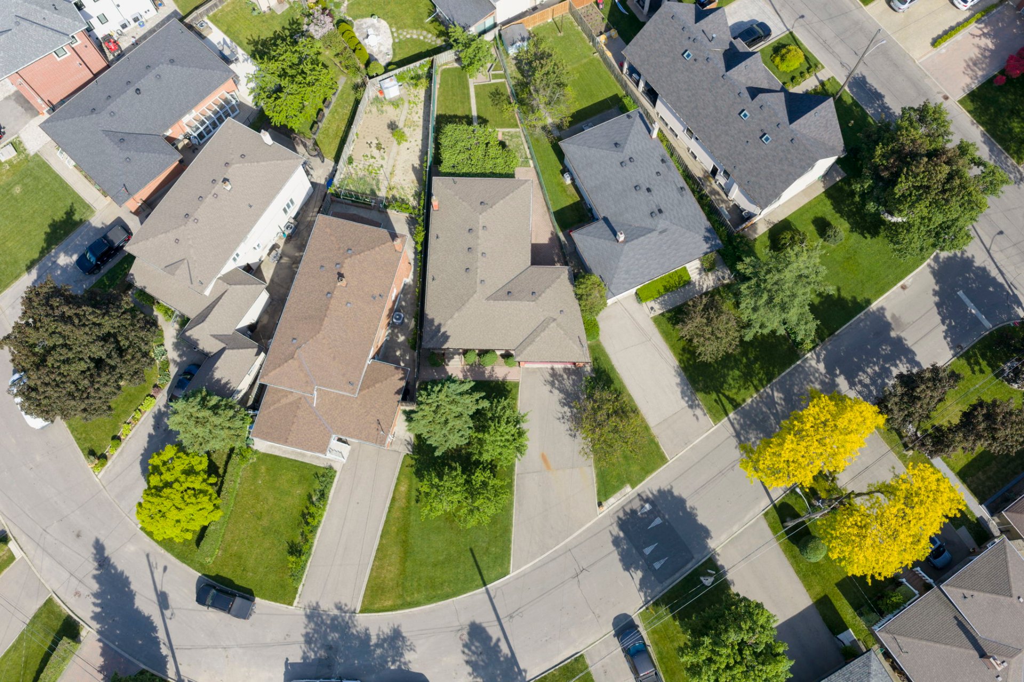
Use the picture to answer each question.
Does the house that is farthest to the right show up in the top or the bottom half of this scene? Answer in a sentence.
Seen from above, the house that is farthest to the right lies in the bottom half of the view.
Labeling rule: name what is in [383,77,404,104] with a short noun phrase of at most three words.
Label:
shed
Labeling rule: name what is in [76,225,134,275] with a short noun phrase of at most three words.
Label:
truck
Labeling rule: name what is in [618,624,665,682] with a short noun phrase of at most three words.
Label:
truck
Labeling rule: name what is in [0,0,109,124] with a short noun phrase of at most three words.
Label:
house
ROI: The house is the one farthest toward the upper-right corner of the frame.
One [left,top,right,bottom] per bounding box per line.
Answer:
[621,1,850,220]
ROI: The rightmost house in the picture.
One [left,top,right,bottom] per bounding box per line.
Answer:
[971,479,1024,556]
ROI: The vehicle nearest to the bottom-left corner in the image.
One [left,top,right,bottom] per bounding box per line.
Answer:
[193,580,260,619]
